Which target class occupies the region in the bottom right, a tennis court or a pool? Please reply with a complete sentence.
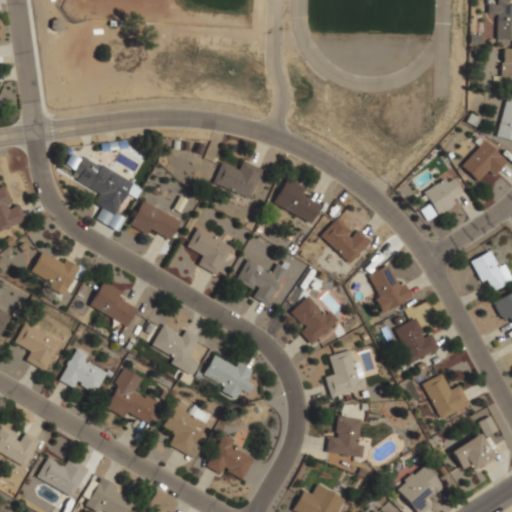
You can see a pool in the bottom right.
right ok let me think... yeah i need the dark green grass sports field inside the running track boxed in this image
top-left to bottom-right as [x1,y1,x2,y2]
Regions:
[308,0,434,38]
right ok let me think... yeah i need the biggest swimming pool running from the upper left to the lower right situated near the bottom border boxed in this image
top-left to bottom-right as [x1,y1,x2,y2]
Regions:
[36,484,64,508]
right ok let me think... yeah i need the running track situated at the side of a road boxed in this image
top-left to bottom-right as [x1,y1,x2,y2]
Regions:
[292,0,450,98]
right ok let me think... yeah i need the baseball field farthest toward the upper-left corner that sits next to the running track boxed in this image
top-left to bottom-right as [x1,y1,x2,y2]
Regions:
[64,0,252,20]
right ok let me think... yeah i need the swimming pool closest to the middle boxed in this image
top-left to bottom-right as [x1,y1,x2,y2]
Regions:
[320,292,342,316]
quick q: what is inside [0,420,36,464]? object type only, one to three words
house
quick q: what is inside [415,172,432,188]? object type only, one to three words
swimming pool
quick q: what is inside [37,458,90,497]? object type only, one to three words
house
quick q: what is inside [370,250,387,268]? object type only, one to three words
camper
